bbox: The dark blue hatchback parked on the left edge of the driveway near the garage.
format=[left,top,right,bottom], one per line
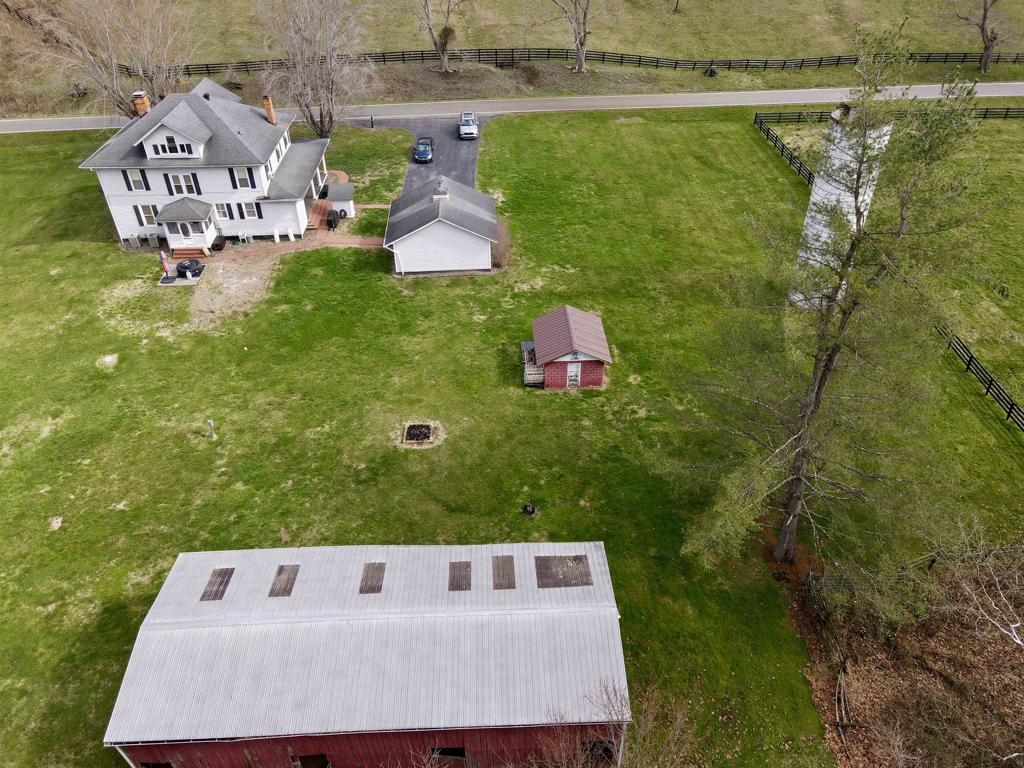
[413,134,436,159]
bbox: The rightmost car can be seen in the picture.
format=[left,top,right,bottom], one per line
[457,106,480,135]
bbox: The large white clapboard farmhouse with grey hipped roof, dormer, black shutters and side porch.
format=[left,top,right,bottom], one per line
[80,77,334,253]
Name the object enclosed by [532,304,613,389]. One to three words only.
shed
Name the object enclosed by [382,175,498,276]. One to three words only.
building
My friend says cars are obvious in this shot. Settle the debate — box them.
[457,106,480,135]
[413,134,436,159]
